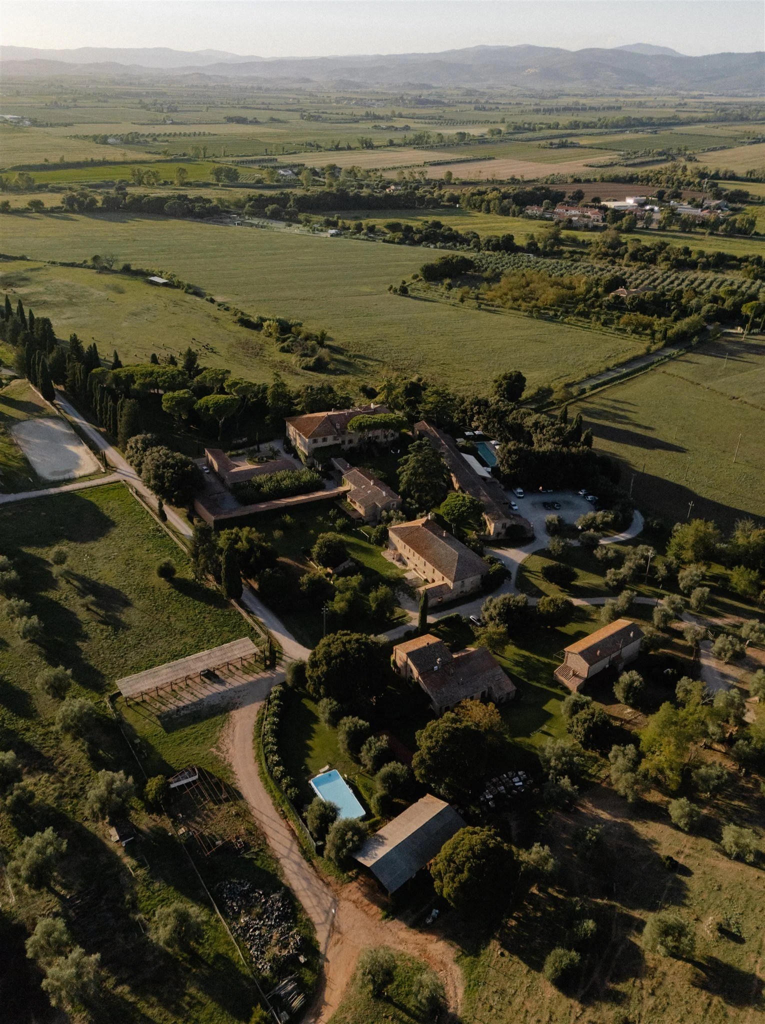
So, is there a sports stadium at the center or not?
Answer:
No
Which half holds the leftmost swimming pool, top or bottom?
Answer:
bottom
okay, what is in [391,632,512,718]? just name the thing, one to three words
house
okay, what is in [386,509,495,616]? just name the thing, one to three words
house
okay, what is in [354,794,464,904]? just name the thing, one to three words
barn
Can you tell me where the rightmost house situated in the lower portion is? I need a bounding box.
[563,617,647,686]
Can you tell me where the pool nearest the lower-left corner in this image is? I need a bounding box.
[310,769,366,828]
